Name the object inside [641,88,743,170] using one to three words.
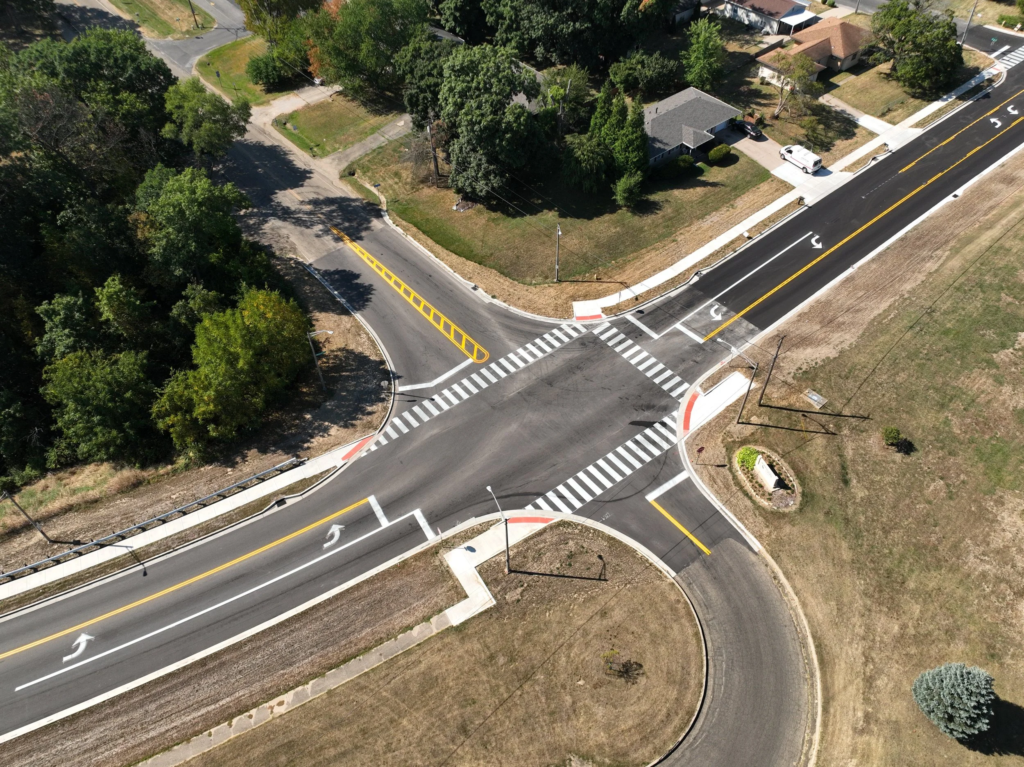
house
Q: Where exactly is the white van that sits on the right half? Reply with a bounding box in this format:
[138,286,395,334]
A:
[779,147,822,175]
